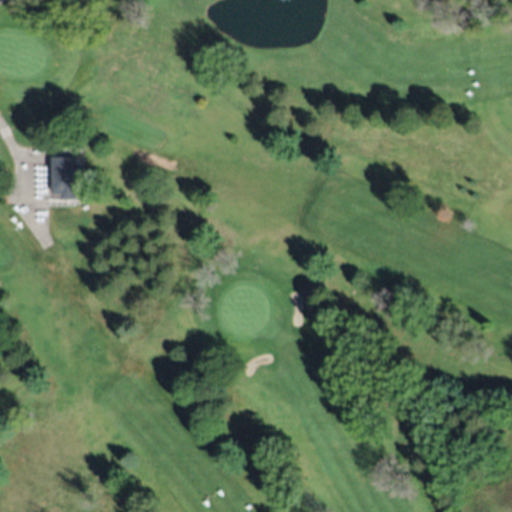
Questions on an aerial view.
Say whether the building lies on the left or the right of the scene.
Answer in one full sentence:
It is on the left.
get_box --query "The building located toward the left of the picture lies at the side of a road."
[50,156,80,205]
